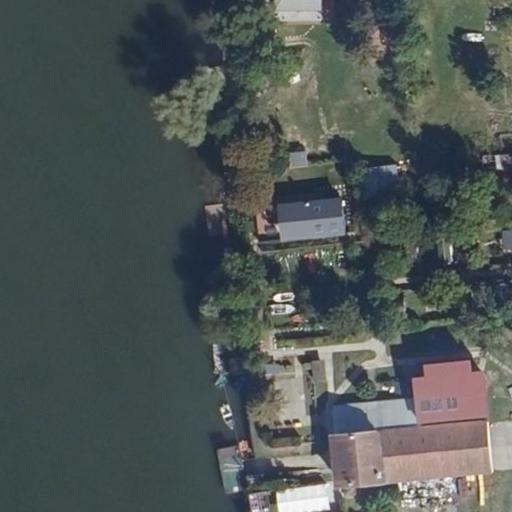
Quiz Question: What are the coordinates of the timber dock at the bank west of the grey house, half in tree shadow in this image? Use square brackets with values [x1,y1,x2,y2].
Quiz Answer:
[205,204,228,240]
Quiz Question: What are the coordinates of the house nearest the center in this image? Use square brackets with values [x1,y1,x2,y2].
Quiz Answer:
[276,196,347,246]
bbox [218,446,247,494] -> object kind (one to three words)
pier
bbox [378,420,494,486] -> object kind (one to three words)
house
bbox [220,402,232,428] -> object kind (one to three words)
boat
